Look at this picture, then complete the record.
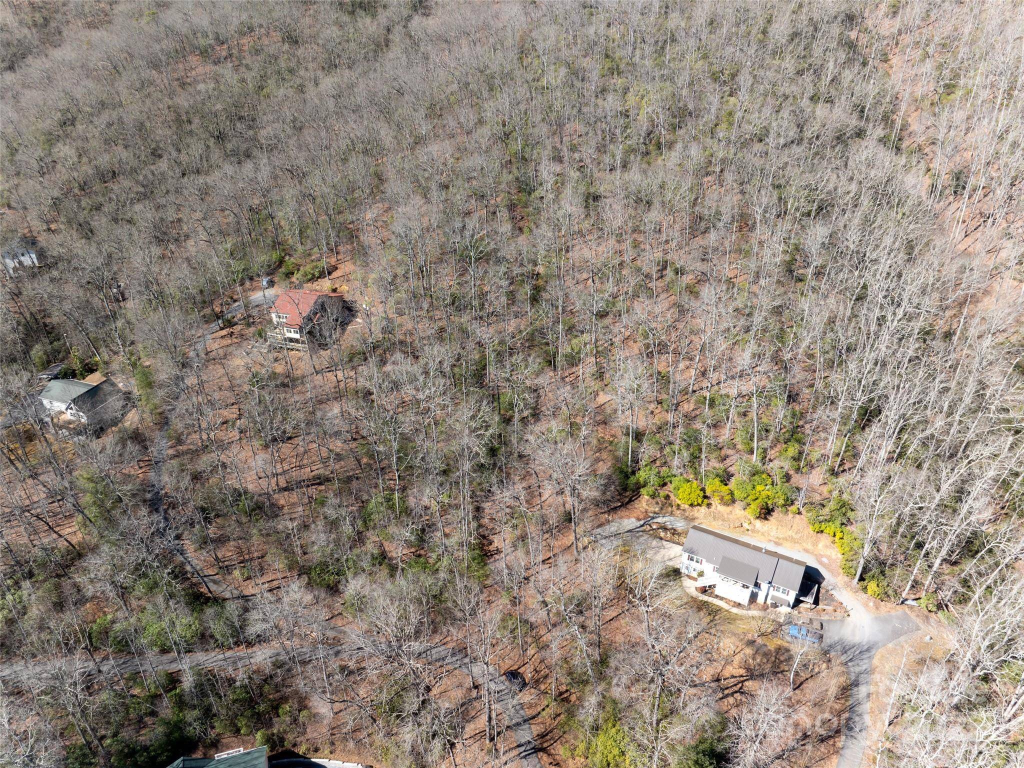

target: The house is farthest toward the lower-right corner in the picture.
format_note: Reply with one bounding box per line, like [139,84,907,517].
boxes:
[681,523,817,615]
